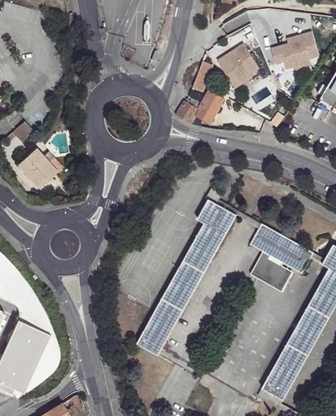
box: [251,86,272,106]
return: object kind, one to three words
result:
swimming pool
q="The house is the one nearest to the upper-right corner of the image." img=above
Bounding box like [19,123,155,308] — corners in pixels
[271,30,318,70]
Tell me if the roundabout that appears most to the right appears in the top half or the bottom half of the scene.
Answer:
top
